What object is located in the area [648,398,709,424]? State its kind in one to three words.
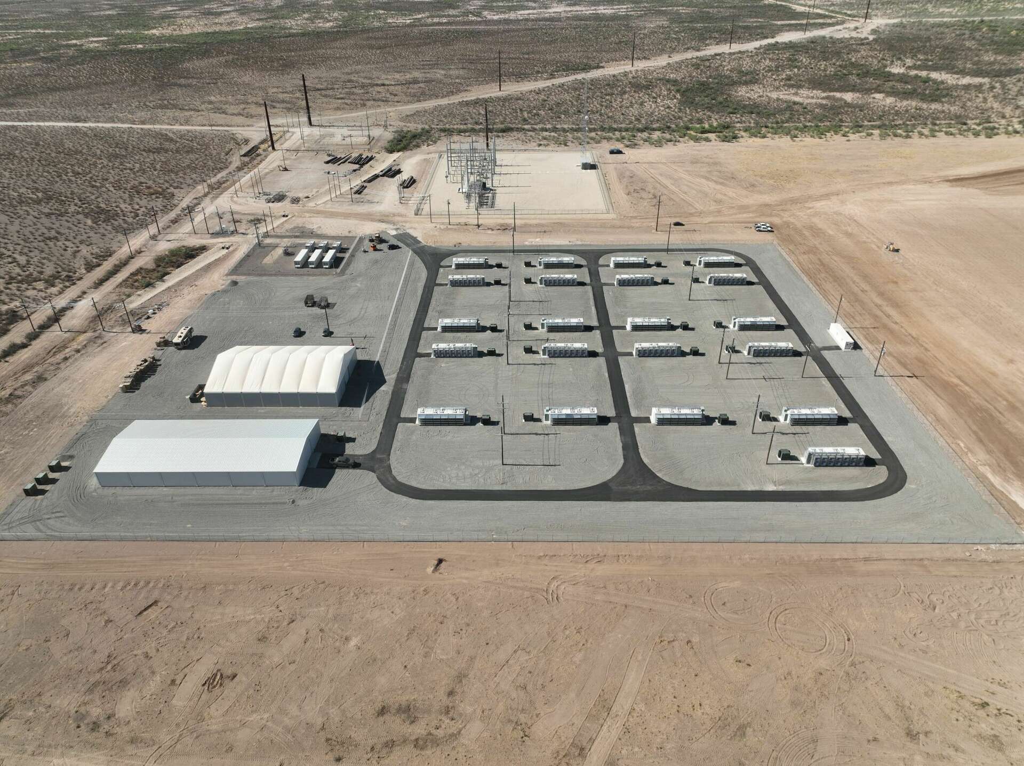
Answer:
shipping container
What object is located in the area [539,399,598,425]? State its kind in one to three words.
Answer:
shipping container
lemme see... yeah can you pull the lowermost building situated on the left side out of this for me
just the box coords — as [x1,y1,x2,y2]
[91,419,321,486]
